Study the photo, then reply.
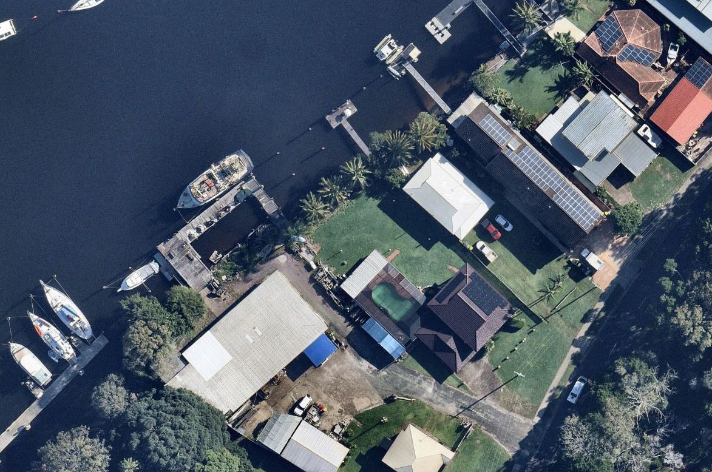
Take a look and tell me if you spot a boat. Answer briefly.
Yes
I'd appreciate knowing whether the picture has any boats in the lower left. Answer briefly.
Yes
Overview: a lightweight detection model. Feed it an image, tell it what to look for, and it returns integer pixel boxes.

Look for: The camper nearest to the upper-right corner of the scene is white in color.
[638,124,662,148]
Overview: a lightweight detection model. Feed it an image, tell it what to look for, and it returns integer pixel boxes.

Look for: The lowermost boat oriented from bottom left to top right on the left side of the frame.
[117,260,162,291]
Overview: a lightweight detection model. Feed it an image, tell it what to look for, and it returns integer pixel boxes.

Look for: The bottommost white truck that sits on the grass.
[475,239,498,263]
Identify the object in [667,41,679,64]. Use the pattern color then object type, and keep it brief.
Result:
white boat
